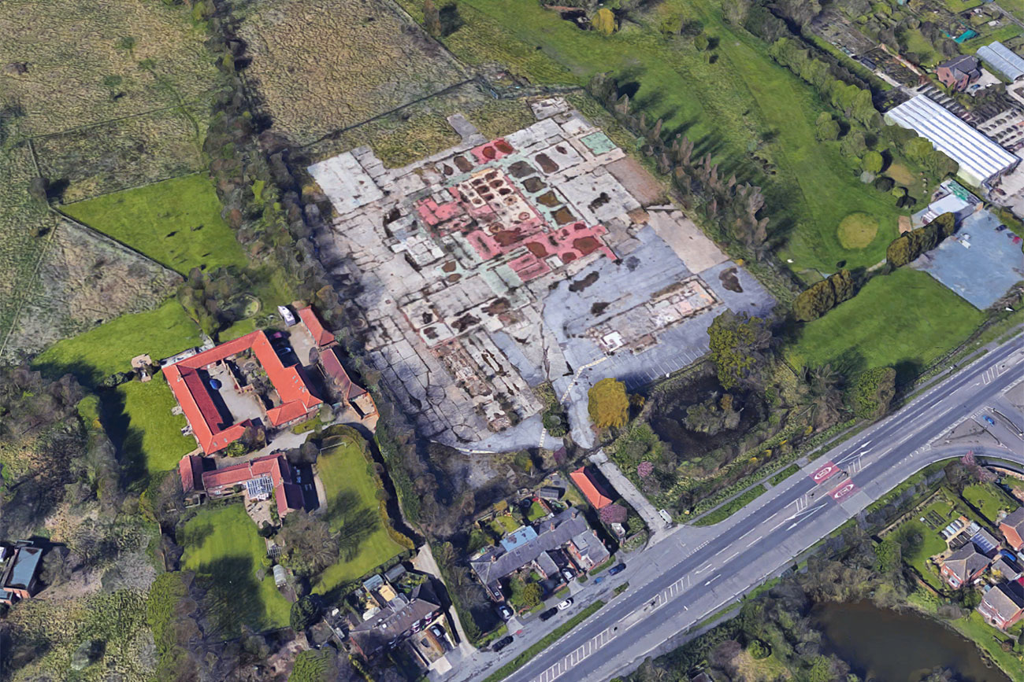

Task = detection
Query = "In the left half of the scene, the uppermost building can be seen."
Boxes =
[297,304,335,351]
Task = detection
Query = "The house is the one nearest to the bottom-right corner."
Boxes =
[978,581,1024,633]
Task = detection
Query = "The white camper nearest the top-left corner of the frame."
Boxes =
[277,302,294,326]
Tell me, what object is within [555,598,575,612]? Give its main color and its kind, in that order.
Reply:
white car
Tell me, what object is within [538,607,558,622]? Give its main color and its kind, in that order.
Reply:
black car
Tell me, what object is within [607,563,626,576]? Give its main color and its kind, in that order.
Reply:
blue vehicle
